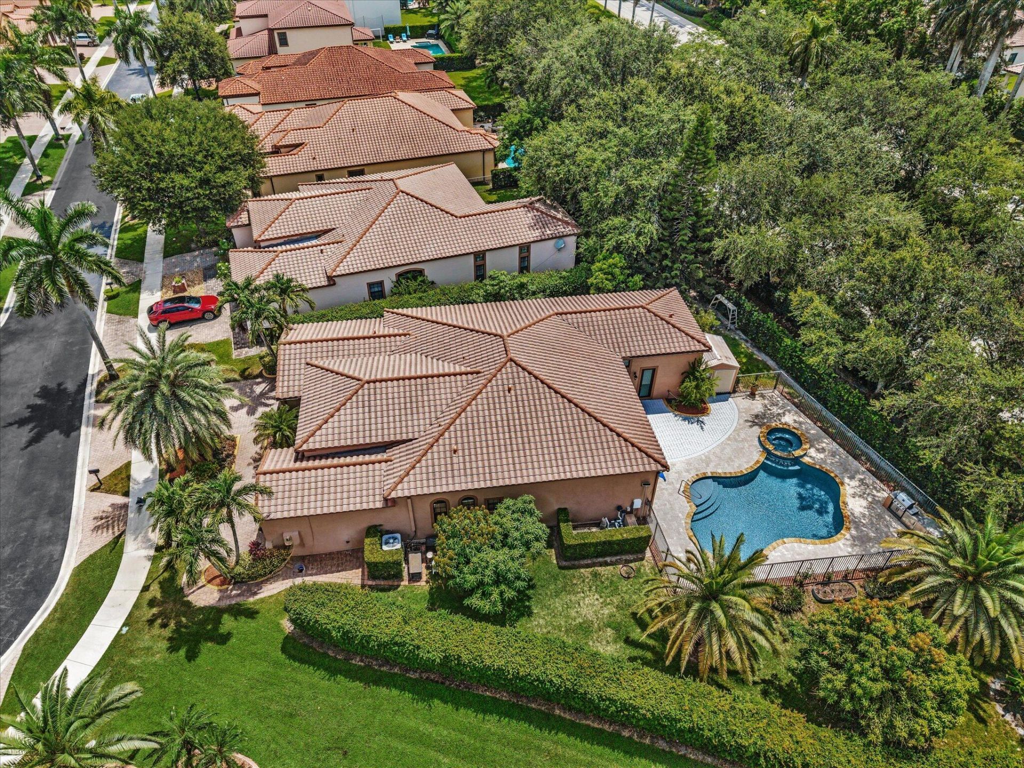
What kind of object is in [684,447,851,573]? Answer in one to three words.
swimming pool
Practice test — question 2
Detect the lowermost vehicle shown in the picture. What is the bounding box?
[145,290,223,329]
